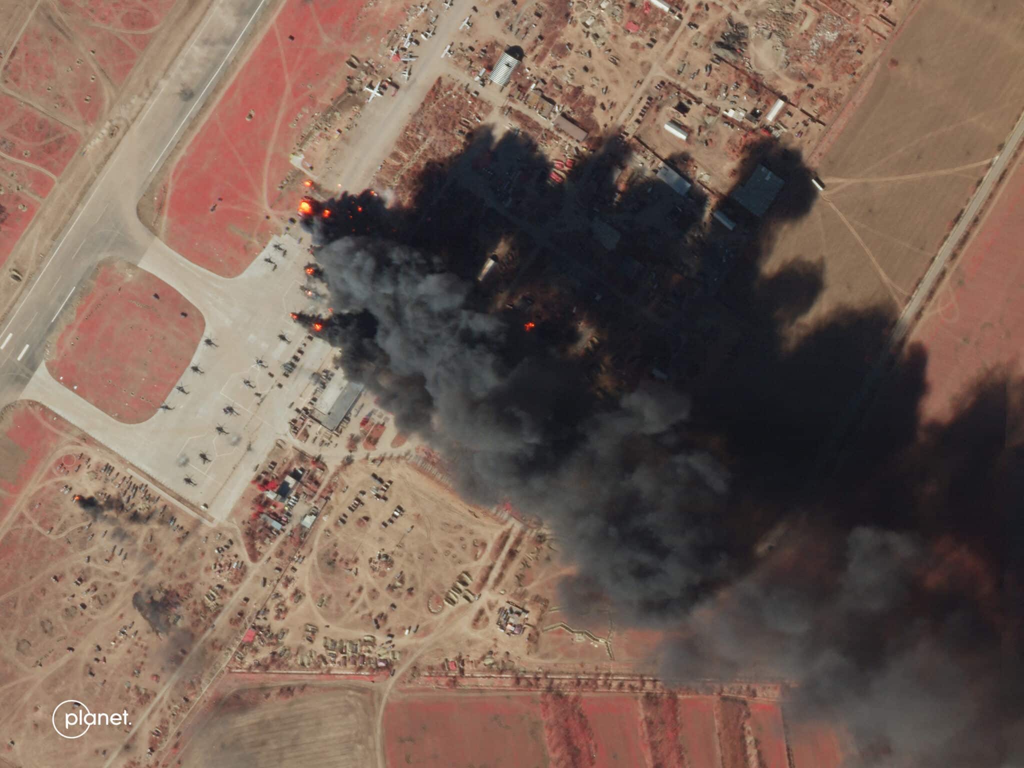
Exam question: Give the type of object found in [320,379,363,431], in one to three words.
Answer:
building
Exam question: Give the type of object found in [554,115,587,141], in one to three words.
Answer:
shed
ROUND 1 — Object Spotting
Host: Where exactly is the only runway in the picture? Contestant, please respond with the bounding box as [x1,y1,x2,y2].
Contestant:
[0,0,276,415]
